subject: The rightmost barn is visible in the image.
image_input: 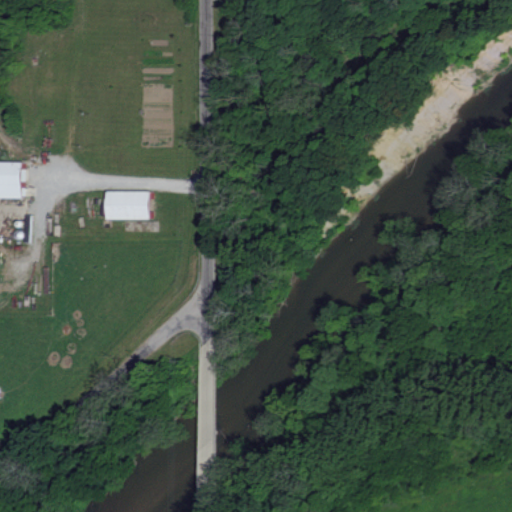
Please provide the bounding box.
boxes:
[104,192,154,220]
